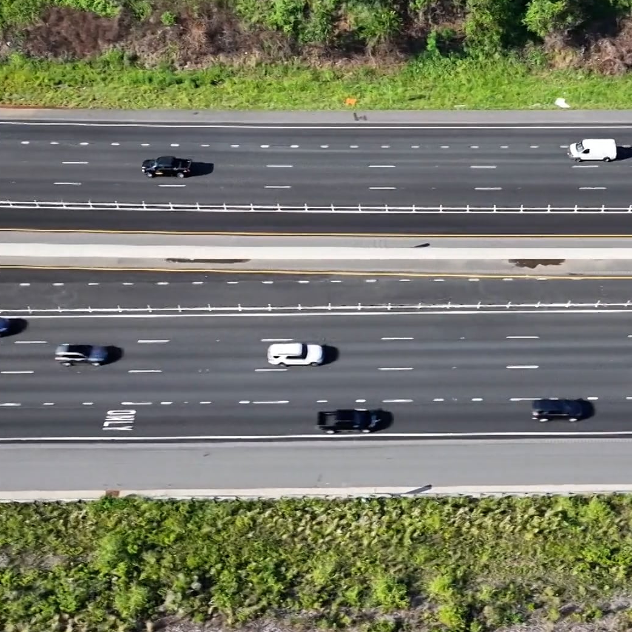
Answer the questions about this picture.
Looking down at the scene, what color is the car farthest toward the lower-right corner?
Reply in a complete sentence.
From above, the car farthest toward the lower-right corner appears black.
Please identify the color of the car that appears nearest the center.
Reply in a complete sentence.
The color of the car that appears nearest the center is white.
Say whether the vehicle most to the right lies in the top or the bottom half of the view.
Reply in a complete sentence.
The top half of the photo is where the vehicle most to the right is.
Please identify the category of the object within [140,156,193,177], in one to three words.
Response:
truck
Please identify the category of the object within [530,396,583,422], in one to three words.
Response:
car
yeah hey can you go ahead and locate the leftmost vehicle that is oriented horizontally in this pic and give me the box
[53,341,108,366]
